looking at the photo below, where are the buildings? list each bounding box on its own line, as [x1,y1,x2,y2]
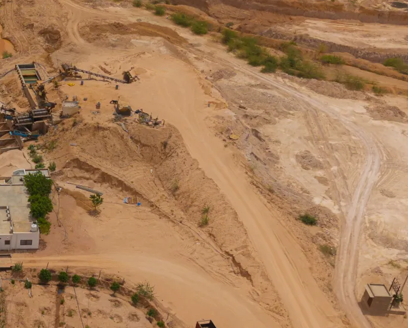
[0,184,39,250]
[362,282,407,313]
